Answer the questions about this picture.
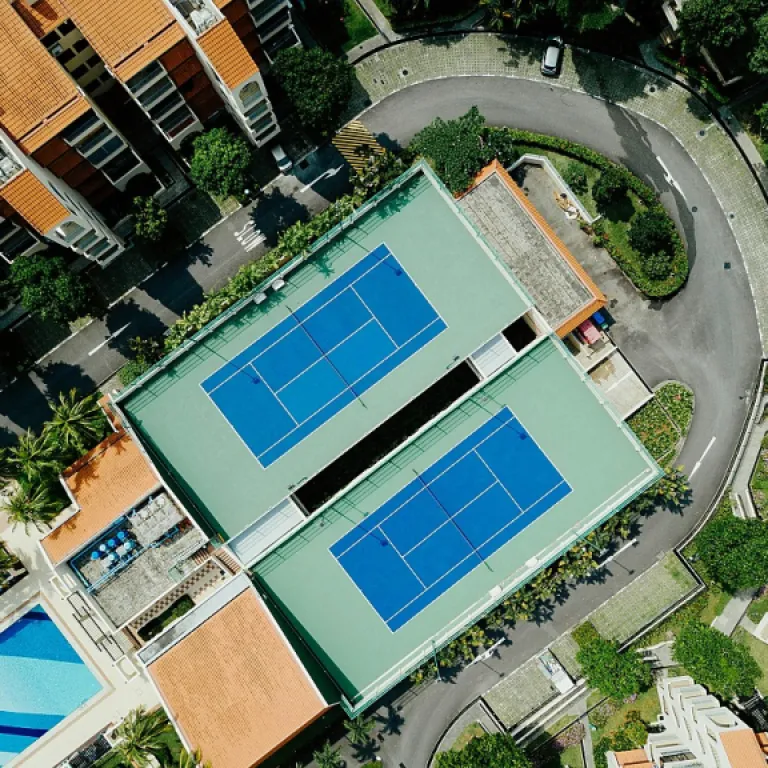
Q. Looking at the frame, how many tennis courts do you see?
2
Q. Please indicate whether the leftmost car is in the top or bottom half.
top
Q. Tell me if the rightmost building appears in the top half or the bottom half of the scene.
bottom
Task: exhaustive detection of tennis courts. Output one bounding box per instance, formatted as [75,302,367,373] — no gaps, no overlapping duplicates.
[116,165,534,545]
[251,335,662,708]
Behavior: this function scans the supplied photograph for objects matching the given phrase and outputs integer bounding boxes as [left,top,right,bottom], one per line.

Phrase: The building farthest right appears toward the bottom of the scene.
[632,674,768,768]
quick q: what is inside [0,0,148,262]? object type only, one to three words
building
